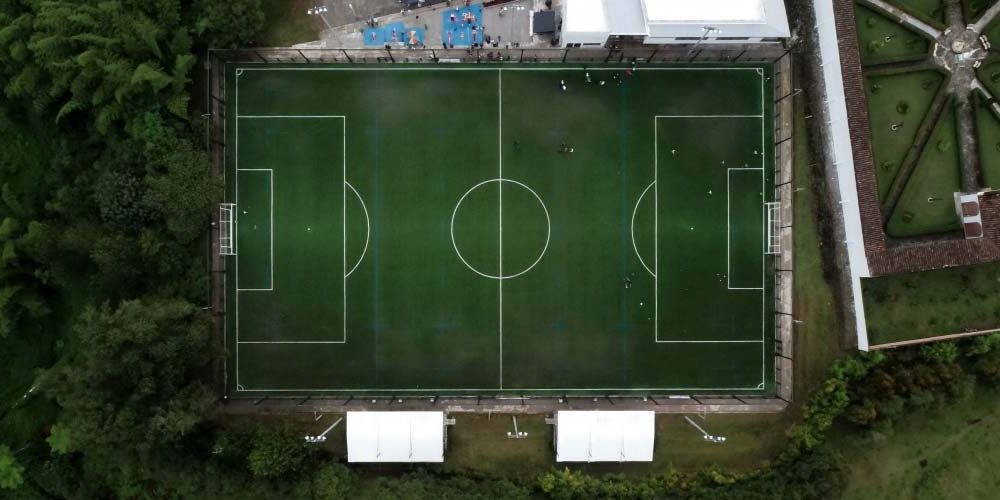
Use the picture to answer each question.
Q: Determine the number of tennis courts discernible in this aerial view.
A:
none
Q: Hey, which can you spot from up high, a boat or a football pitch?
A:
football pitch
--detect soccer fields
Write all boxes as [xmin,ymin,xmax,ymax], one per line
[225,62,775,397]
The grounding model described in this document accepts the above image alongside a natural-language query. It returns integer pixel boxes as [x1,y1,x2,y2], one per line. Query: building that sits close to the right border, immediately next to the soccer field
[814,0,1000,277]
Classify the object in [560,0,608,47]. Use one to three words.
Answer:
building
